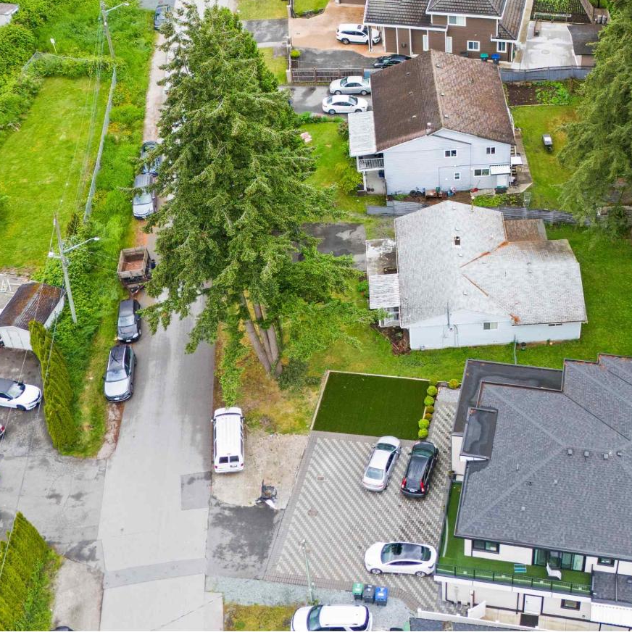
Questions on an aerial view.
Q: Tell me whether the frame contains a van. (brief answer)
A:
Yes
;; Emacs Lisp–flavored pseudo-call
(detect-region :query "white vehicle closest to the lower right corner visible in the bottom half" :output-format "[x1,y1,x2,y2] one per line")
[362,540,435,579]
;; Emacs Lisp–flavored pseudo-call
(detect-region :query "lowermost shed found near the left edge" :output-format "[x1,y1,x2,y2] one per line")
[0,282,69,347]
